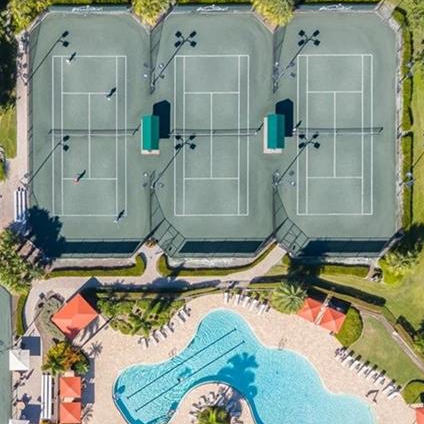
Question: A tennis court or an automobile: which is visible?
tennis court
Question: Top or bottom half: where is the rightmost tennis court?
top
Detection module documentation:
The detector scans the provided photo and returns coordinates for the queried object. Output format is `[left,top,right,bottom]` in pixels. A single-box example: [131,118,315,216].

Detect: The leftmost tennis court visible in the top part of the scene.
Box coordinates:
[28,12,151,258]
